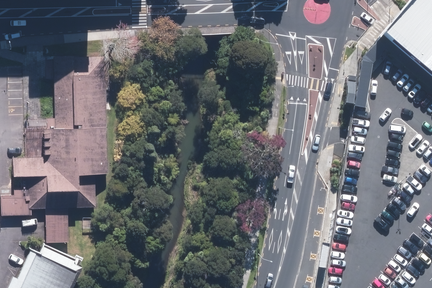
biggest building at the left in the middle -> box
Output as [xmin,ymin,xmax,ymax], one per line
[0,57,108,243]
